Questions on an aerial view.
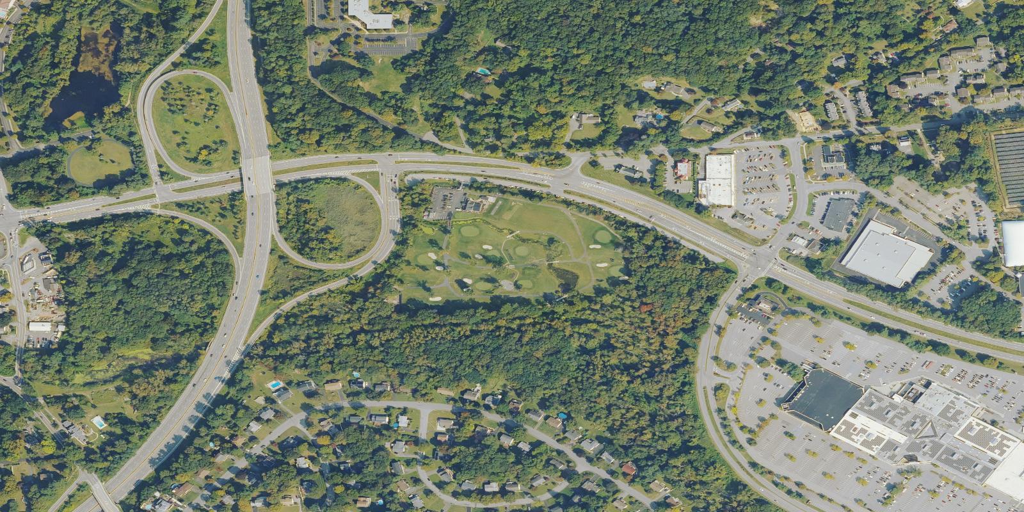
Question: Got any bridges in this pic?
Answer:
Yes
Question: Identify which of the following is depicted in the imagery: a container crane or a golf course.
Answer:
golf course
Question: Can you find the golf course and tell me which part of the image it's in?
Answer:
center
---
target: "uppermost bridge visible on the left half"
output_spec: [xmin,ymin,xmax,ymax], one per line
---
[240,149,272,204]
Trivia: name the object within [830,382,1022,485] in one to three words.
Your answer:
building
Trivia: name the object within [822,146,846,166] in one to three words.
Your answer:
building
